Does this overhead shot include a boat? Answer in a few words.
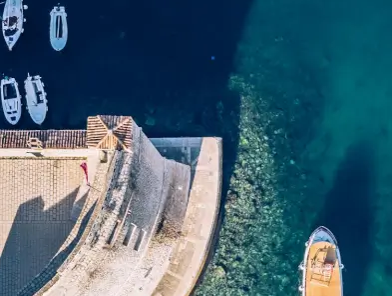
Yes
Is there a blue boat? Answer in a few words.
Yes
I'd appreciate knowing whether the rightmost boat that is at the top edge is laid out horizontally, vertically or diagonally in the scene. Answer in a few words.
vertically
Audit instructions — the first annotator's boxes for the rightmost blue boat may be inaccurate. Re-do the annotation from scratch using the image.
[47,3,69,51]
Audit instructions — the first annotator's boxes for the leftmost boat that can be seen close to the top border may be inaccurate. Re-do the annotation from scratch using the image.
[0,0,29,51]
